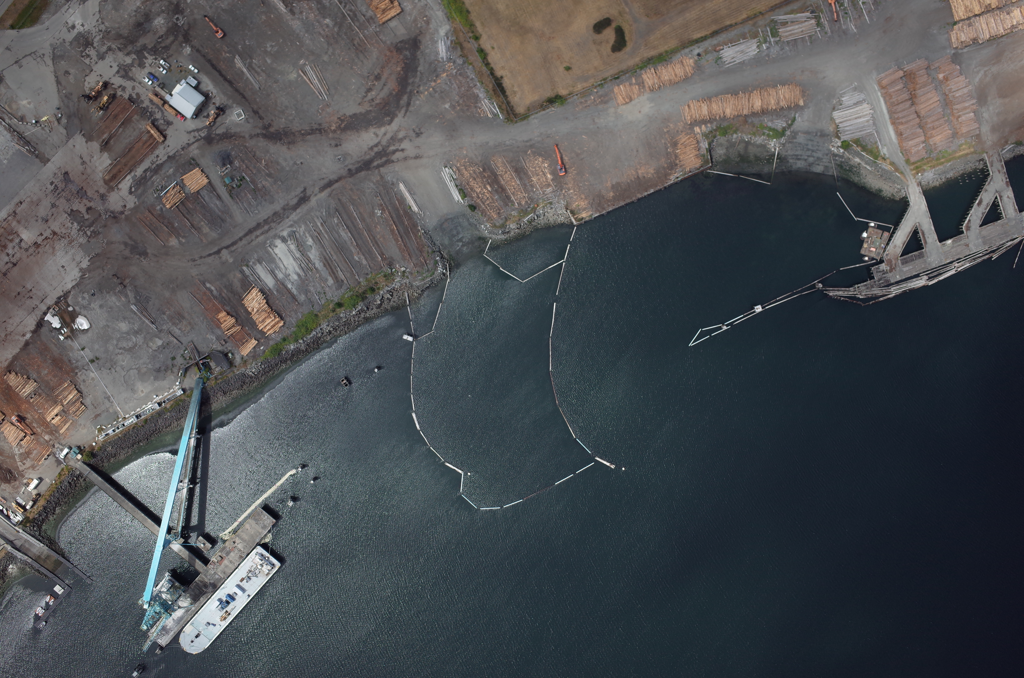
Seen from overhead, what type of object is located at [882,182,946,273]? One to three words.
pier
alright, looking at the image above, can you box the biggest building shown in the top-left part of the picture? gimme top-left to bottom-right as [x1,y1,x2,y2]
[164,79,207,120]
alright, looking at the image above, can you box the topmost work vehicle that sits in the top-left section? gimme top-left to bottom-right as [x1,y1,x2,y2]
[204,15,226,39]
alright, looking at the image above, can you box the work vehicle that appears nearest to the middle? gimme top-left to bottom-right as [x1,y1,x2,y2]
[554,146,566,177]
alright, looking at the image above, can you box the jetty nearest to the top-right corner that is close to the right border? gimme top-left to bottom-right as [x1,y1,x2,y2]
[962,149,1020,235]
